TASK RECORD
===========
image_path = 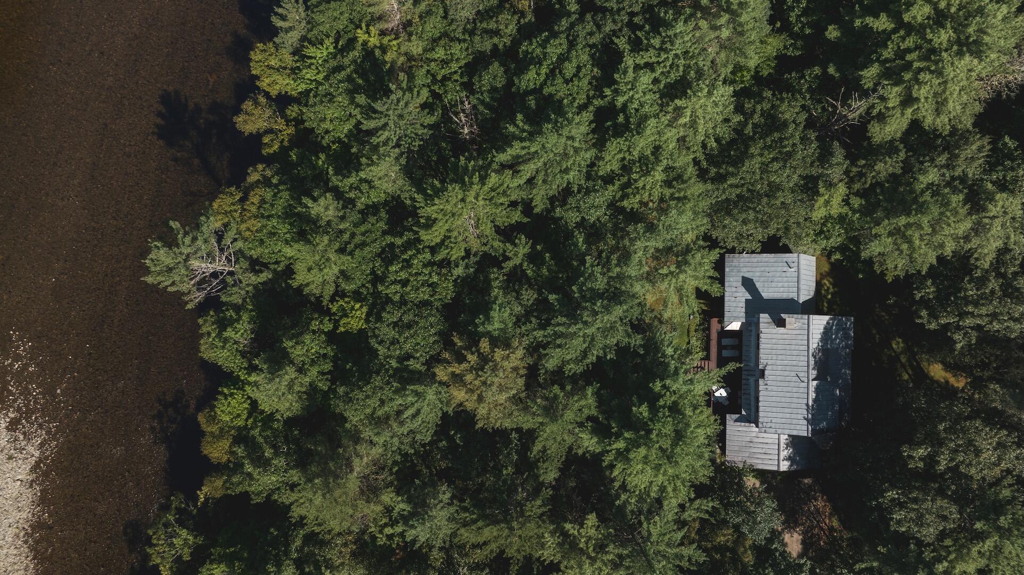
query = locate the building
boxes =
[716,250,854,470]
